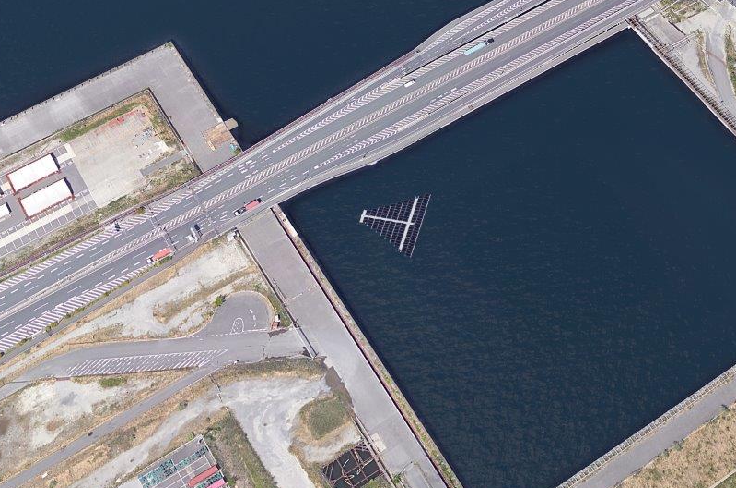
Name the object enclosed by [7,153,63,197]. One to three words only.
building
